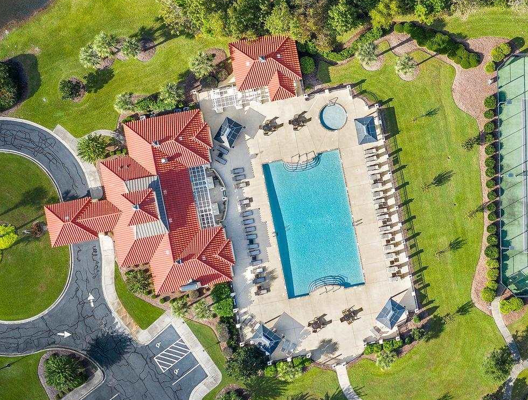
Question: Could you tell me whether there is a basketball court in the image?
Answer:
No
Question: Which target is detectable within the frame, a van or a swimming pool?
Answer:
swimming pool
